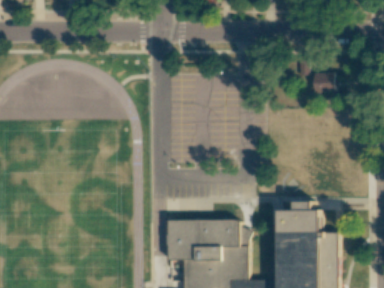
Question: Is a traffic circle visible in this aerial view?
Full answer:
No, there is no traffic circle in the image.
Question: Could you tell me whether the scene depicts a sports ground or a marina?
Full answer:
What you see here is a sports ground.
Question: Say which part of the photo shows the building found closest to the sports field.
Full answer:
The building found closest to the sports field appears toward the bottom of the photo.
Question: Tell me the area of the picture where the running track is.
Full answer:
The running track is in the left part of the image.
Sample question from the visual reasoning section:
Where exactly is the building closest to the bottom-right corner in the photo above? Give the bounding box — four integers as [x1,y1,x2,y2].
[275,201,344,288]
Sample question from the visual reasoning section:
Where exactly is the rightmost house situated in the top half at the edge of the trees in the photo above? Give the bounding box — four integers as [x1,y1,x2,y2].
[314,72,336,92]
